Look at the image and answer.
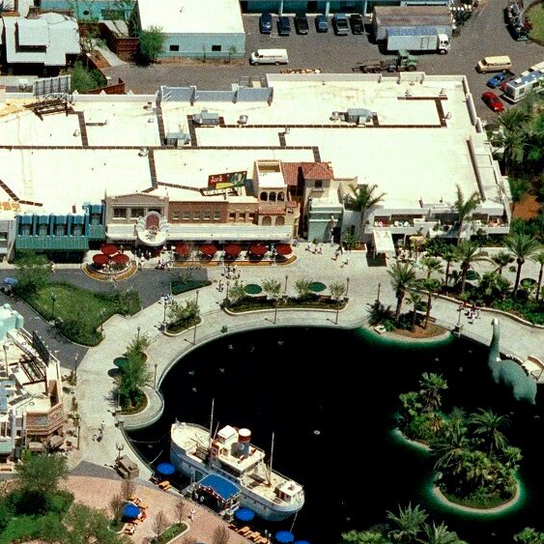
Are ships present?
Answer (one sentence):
Yes, there is a ship in the image.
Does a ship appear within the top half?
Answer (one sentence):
No, I see no ship within the top half.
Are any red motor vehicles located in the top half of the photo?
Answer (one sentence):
Yes, a red motor vehicle can be seen in the top half of the photo.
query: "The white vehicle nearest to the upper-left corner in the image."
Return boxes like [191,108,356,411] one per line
[251,43,287,61]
